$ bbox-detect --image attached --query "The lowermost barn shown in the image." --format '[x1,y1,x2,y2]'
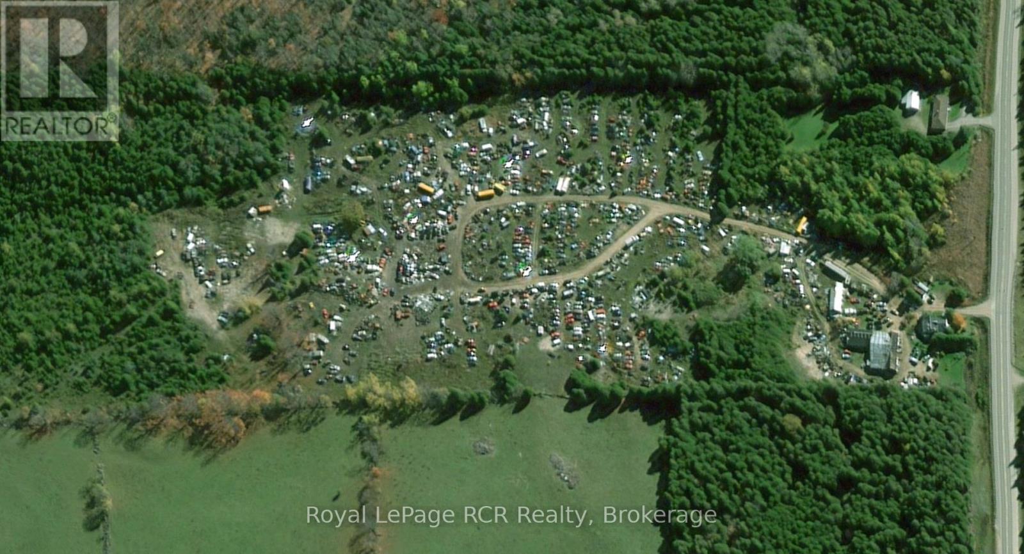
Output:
[847,335,899,374]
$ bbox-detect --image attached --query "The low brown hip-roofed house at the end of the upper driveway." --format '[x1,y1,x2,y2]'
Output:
[931,97,949,131]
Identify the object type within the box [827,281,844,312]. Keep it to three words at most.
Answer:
shed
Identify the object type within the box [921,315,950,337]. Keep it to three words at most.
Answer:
house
